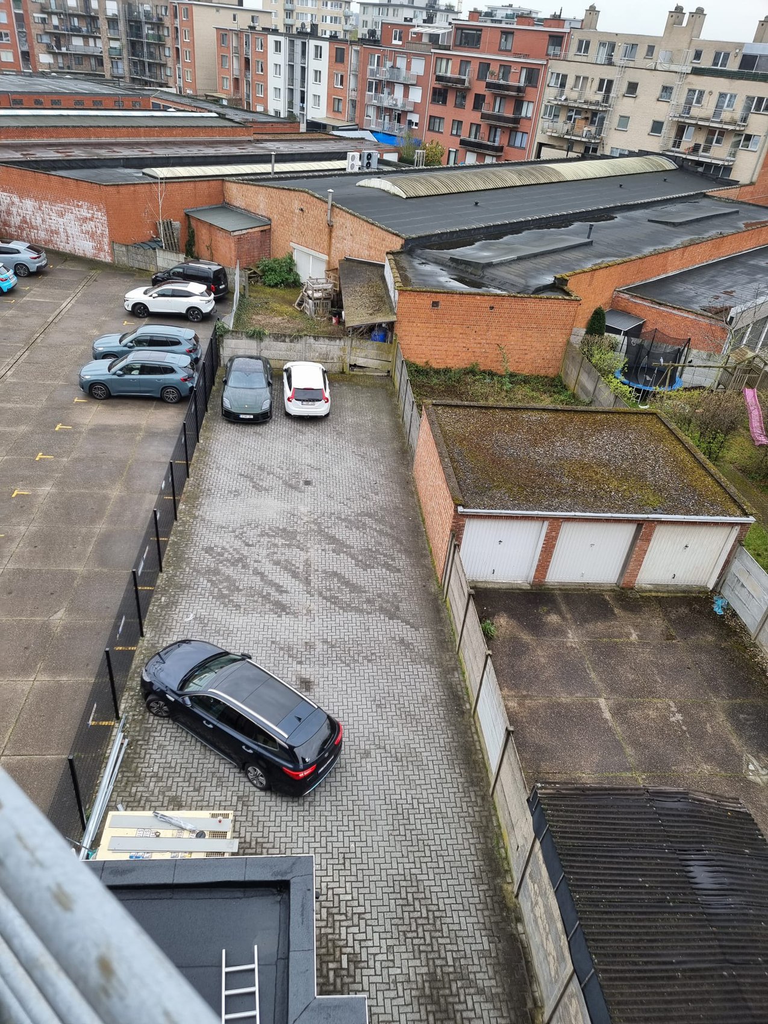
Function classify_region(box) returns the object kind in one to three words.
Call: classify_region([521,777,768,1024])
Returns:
shed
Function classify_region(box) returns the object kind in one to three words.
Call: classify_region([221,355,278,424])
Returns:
car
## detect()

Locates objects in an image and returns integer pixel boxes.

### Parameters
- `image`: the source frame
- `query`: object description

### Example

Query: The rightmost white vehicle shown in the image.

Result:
[282,360,334,418]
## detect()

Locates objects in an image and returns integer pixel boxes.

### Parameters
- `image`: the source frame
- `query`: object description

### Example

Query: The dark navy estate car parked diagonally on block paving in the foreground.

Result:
[139,640,347,800]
